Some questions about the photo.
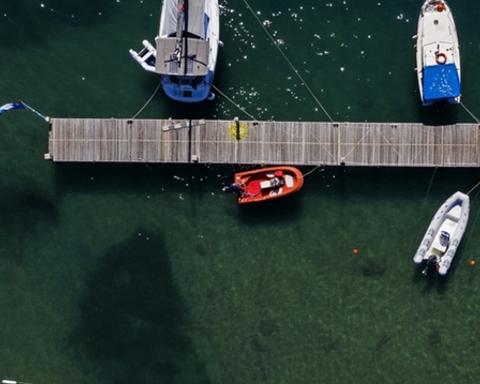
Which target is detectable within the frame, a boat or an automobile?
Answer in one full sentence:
This aerial view contains a boat.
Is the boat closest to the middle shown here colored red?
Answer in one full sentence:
Yes, the boat closest to the middle is red.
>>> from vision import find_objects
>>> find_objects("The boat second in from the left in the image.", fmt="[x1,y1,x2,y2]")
[153,0,225,109]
